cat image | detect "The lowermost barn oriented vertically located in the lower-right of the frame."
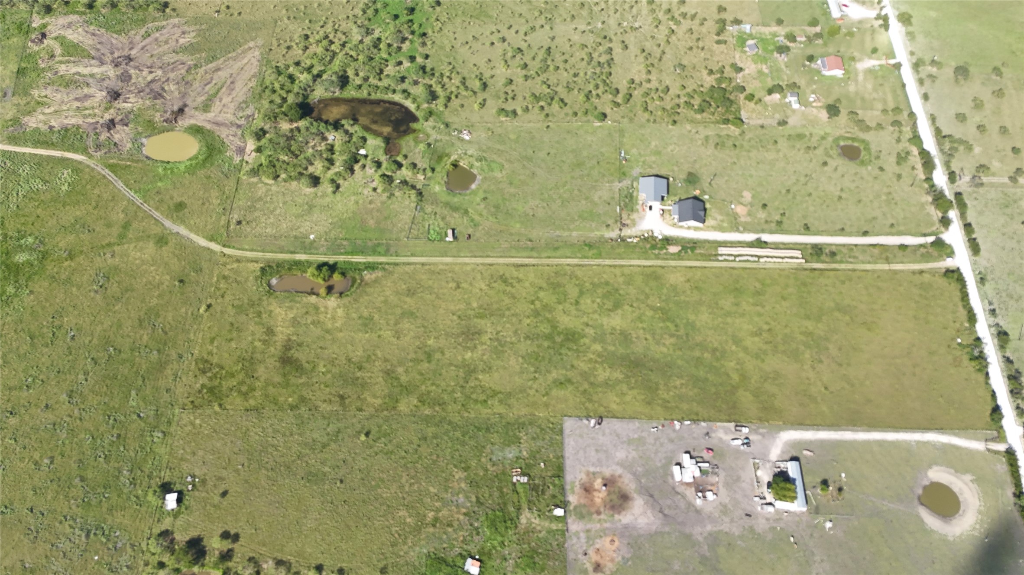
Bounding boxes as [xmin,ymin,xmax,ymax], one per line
[786,462,806,512]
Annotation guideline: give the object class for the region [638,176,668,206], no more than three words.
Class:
house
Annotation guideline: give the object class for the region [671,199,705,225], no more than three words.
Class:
house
